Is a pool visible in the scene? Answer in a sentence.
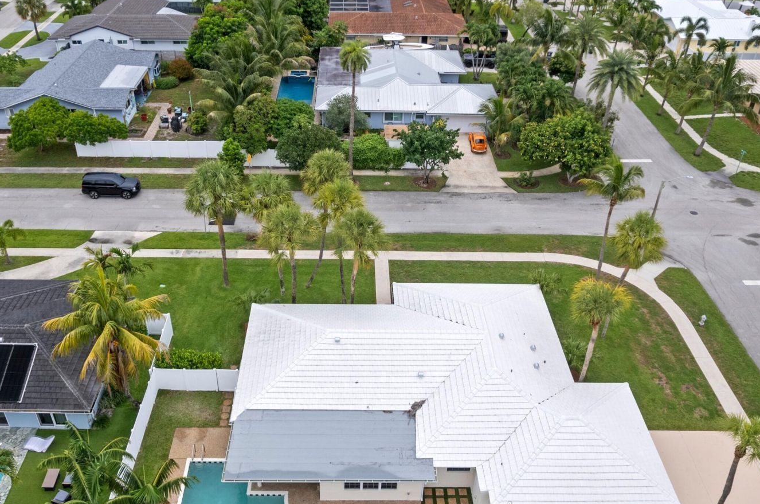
Yes, the photo shows a pool.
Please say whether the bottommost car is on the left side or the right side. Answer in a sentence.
You can find the bottommost car on the left side of the picture.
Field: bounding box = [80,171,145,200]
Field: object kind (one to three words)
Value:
car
